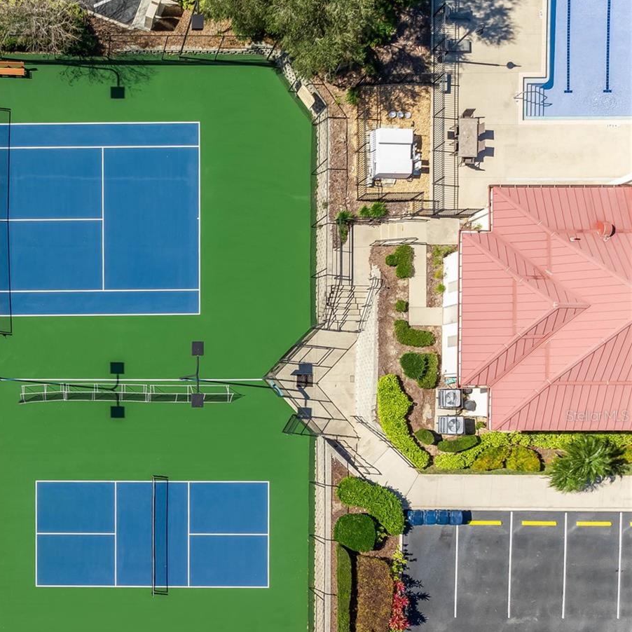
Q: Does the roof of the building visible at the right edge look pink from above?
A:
Yes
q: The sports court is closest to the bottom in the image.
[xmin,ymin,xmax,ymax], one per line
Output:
[36,481,269,587]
